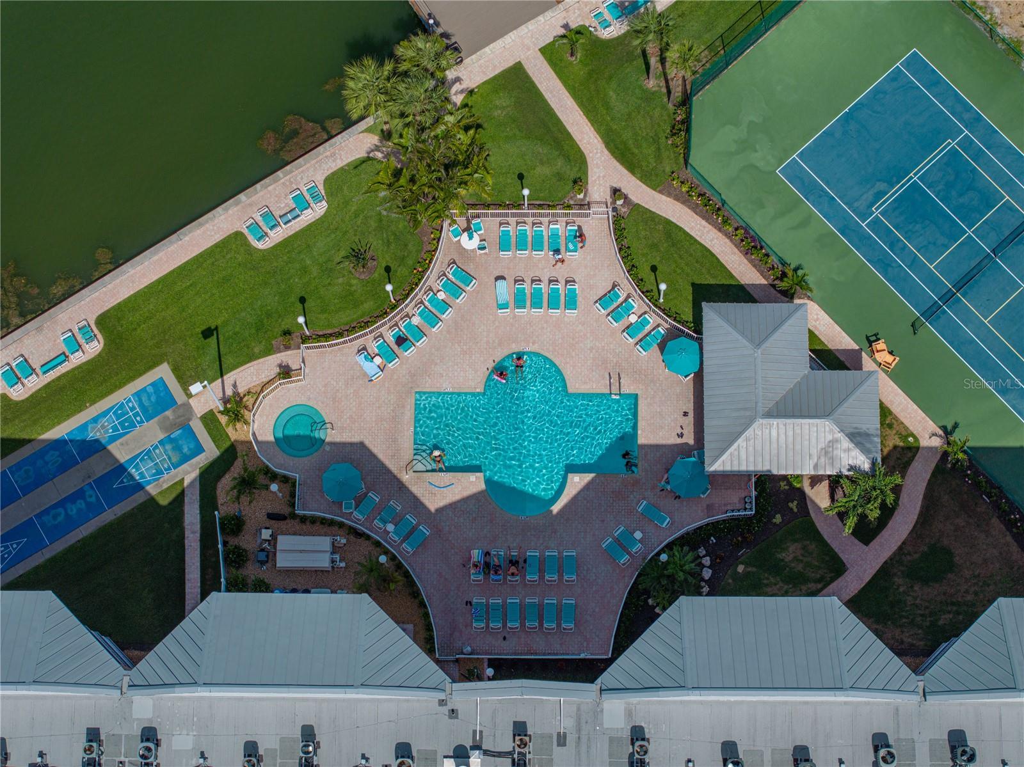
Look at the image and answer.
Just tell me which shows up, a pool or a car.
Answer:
pool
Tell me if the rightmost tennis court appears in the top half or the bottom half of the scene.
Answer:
top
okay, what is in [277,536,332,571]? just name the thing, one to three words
shed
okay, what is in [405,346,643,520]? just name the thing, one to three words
swimming pool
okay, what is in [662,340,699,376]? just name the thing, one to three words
umbrella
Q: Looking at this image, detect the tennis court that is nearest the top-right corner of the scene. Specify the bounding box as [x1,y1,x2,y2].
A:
[688,0,1024,510]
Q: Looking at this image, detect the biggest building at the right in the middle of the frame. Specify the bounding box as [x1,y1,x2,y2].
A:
[701,301,882,477]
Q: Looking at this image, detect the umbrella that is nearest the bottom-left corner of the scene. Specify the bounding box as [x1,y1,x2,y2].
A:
[323,463,363,503]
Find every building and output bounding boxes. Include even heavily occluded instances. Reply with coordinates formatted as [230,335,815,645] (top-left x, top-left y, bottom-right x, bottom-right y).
[701,301,882,477]
[0,591,1024,767]
[277,536,332,571]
